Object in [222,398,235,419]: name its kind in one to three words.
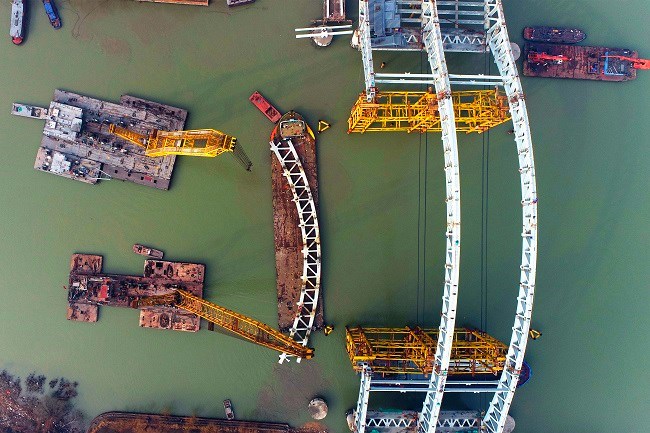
boat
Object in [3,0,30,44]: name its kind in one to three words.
ship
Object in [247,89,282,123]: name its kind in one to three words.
boat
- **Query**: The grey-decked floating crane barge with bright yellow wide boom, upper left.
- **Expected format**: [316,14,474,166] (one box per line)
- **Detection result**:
[41,89,253,187]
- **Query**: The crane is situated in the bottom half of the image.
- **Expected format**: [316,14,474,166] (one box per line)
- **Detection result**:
[66,254,316,359]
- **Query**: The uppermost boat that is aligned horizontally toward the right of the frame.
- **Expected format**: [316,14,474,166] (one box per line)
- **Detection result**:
[524,25,585,44]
